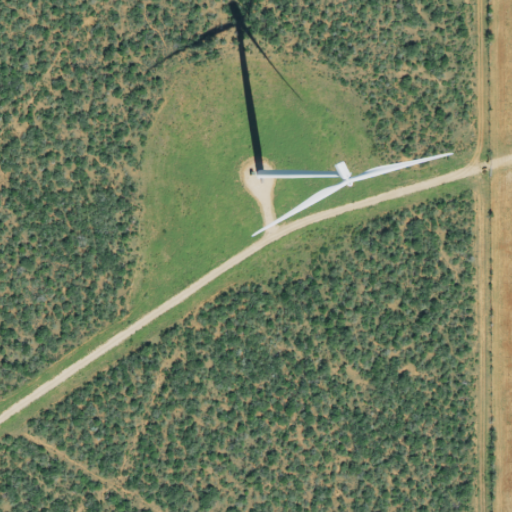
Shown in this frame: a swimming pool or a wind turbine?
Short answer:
wind turbine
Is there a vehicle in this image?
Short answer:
No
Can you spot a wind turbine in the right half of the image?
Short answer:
Yes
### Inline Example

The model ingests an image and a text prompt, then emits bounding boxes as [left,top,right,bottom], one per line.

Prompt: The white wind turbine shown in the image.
[252,153,454,236]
